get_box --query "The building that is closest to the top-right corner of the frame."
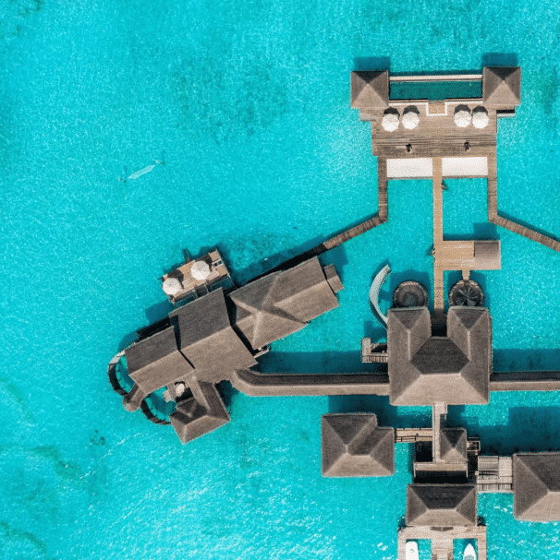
[483,66,522,106]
